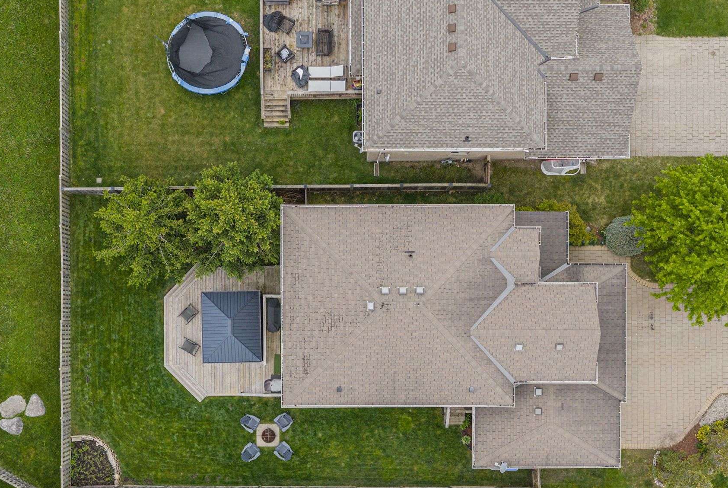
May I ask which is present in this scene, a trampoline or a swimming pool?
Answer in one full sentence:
Looking from above, you can make out a trampoline.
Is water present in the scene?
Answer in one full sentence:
No, there's no water in this view.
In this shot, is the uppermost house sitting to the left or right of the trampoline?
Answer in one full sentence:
Looking at the photo, the uppermost house lies to the right of the trampoline.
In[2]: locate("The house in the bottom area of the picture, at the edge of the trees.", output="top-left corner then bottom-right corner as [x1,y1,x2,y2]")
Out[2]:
[281,204,626,468]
